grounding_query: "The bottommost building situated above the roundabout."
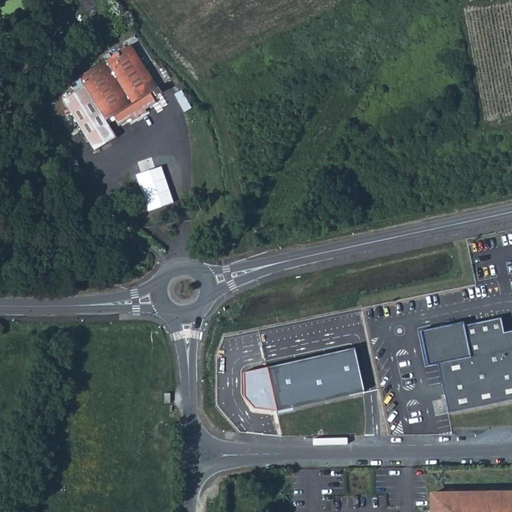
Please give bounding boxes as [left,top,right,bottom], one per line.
[136,158,174,211]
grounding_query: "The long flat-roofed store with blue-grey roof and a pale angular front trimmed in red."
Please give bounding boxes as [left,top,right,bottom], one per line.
[242,348,365,415]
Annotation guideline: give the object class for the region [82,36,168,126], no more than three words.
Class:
house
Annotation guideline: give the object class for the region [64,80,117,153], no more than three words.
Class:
building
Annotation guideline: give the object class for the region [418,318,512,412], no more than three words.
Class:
building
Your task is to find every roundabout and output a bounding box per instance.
[138,256,231,332]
